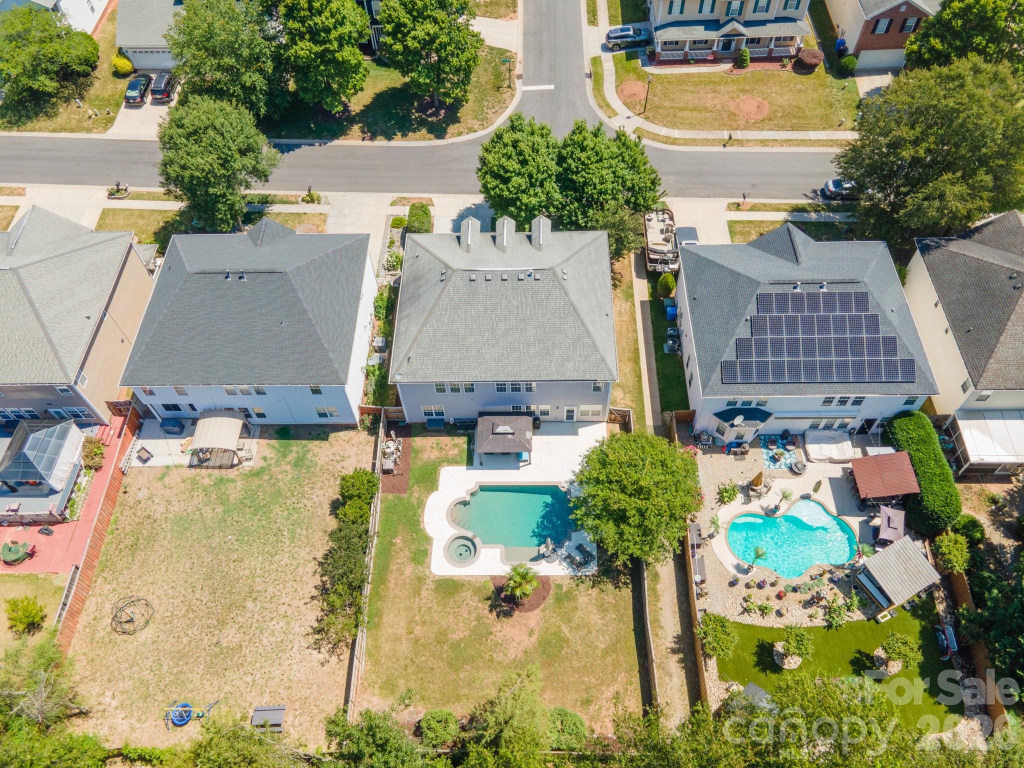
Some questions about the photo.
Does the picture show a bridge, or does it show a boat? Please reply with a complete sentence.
Looking from above, you can make out a boat.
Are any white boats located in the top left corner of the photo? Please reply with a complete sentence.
No, the scene shows no white boat in the top left corner of the photo.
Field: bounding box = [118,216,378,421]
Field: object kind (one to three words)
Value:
house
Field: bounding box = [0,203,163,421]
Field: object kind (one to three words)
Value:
house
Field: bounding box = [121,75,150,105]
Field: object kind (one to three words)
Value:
car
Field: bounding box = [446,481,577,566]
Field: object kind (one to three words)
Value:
swimming pool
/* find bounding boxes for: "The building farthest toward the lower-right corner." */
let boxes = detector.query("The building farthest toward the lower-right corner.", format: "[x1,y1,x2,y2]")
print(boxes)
[851,539,941,613]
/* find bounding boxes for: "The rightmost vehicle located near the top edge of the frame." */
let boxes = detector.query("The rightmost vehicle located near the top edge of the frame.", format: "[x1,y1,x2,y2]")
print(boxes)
[606,25,651,50]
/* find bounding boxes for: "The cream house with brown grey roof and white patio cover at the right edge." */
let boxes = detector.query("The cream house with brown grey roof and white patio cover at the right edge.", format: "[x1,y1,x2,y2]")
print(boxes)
[898,209,1024,477]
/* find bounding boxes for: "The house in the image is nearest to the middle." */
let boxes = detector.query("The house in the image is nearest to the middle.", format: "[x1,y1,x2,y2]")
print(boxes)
[386,215,621,420]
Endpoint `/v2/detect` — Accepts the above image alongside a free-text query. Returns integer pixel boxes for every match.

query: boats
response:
[645,204,680,274]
